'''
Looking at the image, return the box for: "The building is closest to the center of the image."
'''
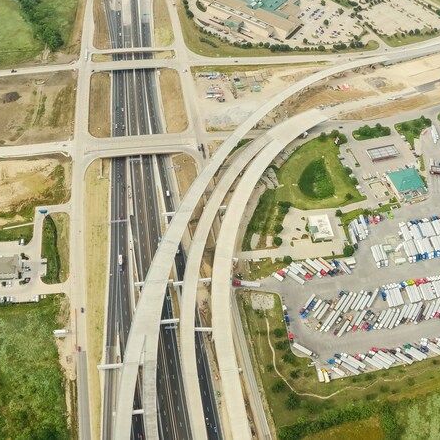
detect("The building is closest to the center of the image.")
[307,214,334,241]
